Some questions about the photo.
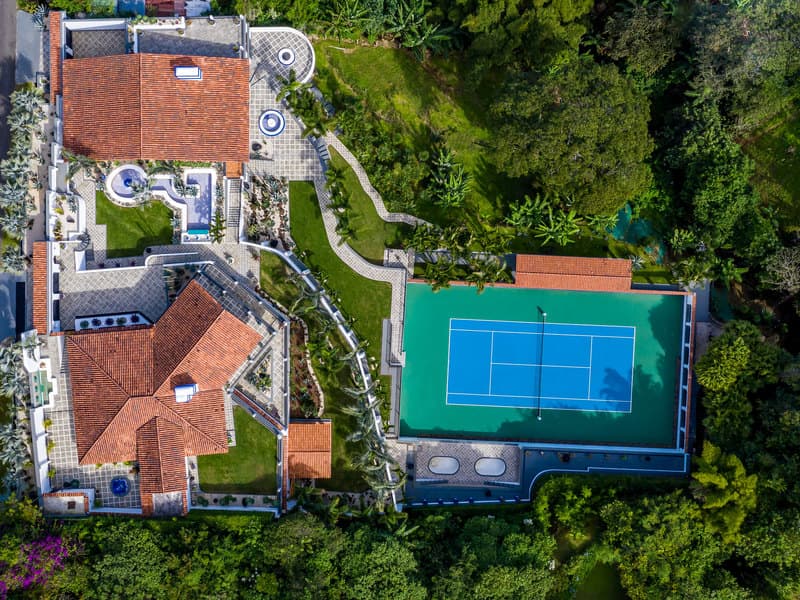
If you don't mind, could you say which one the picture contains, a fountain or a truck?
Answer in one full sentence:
Of the two, only a fountain appears.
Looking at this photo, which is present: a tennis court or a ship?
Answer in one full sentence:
Visible in the photo is a tennis court.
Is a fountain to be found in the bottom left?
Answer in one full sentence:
Yes, you'll find a fountain in the bottom left.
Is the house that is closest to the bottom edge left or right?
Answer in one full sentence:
It is on the left.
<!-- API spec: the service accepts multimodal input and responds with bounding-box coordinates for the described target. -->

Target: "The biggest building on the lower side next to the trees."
[64,278,263,517]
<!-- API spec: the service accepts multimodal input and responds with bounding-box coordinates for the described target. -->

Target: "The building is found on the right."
[513,254,632,292]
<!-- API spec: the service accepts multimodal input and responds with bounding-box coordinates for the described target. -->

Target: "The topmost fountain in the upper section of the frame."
[277,48,296,67]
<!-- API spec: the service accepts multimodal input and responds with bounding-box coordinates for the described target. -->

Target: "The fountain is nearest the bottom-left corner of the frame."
[111,475,132,495]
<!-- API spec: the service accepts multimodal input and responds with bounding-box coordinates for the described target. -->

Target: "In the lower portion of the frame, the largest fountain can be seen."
[24,358,56,409]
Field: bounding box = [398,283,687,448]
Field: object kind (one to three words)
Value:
tennis court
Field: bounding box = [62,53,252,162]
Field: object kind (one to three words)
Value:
house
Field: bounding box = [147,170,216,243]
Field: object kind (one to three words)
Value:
swimming pool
